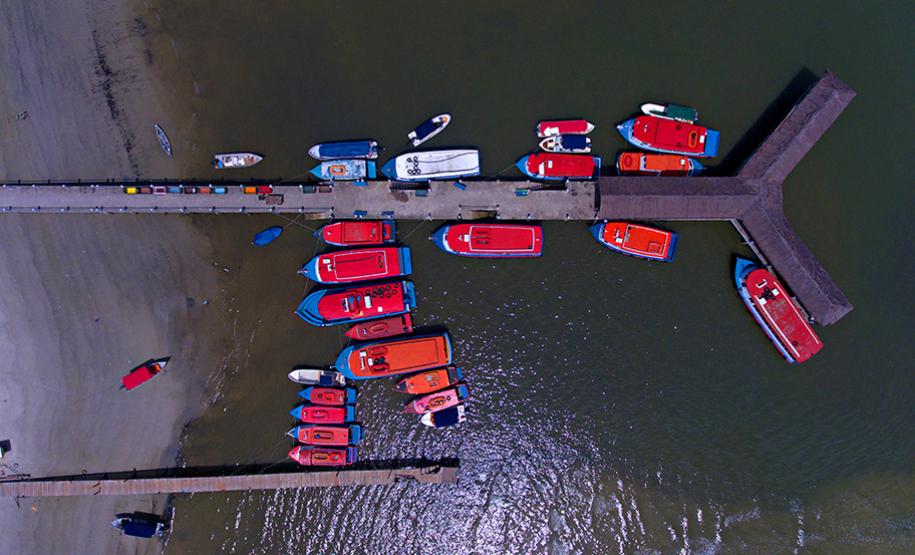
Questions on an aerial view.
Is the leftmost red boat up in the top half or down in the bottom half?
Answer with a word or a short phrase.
bottom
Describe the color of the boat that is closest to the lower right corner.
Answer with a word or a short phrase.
red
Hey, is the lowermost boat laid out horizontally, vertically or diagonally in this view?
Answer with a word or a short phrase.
horizontally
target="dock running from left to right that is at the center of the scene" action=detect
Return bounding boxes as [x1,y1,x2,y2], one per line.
[0,181,812,319]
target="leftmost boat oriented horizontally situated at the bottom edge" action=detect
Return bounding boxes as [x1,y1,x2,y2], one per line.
[110,517,167,542]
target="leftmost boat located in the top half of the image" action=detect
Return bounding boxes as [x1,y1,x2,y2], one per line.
[153,123,172,156]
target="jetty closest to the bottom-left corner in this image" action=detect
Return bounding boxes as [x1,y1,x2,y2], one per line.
[0,464,459,497]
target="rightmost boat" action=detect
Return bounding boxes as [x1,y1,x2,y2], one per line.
[734,257,819,362]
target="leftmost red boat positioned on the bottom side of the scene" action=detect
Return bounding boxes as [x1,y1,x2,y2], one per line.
[120,357,172,390]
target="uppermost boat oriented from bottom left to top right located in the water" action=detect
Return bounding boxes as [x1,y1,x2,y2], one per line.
[409,116,450,147]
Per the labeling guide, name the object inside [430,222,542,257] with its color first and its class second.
red boat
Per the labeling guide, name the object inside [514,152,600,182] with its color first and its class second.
red boat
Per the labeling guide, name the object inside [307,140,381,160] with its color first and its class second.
blue boat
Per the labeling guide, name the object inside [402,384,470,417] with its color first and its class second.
pink boat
